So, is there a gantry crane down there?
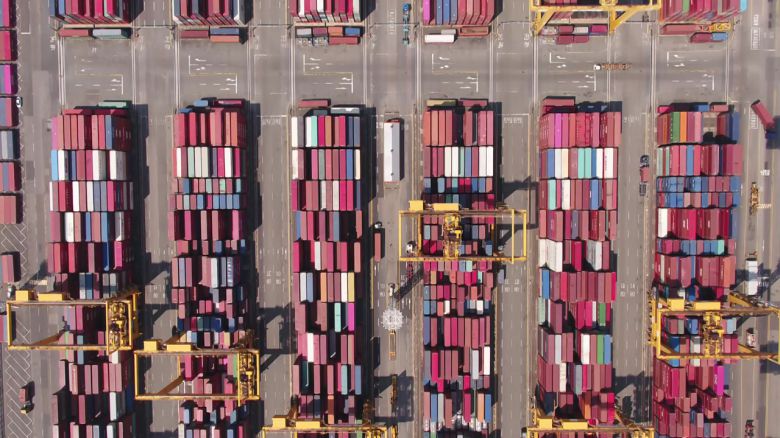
Yes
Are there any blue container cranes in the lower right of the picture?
No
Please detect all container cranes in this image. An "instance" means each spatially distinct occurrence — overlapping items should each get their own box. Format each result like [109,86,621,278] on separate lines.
[529,0,658,38]
[264,396,387,438]
[136,327,262,405]
[401,196,526,266]
[528,399,657,438]
[7,283,142,356]
[649,290,780,364]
